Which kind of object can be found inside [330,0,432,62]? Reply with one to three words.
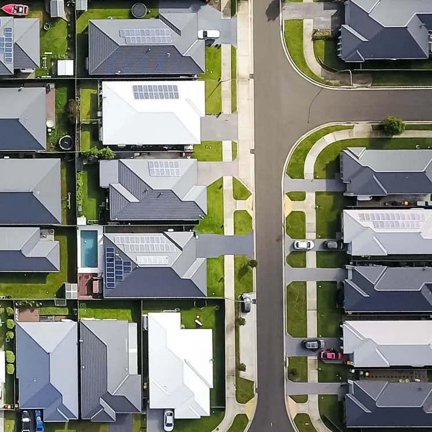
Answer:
house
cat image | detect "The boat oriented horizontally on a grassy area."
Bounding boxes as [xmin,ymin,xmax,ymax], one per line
[0,3,31,16]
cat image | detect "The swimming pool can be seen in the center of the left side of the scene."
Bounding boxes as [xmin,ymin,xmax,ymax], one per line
[79,230,99,269]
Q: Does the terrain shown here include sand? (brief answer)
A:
No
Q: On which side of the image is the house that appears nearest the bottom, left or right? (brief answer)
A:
right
